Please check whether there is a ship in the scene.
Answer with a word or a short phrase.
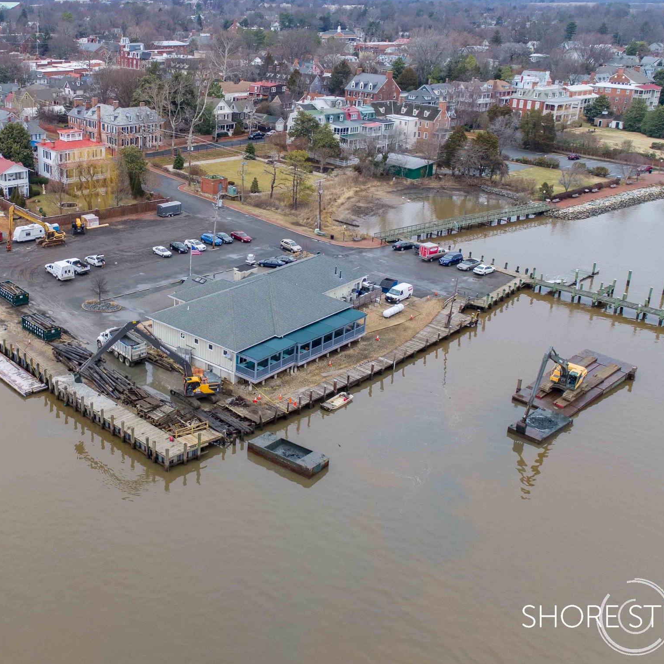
Yes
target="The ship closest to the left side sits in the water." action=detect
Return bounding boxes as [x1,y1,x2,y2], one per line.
[248,433,329,478]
